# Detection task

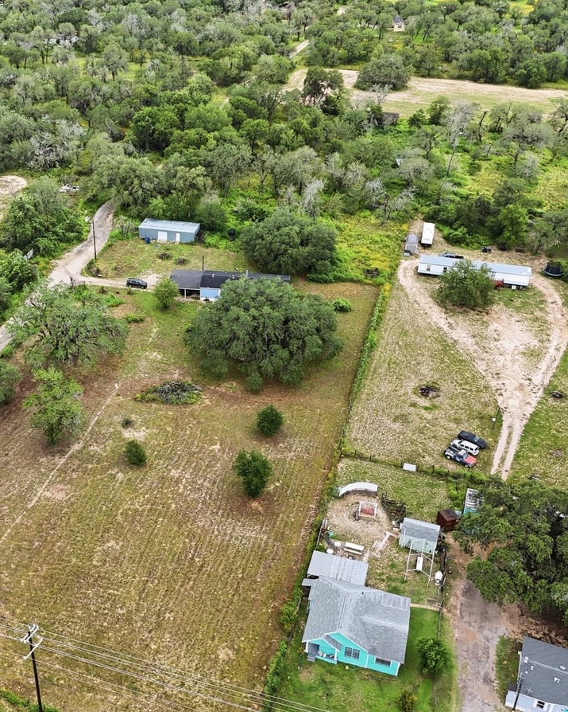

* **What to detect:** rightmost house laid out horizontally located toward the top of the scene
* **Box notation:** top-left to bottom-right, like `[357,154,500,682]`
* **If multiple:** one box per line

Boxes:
[416,255,531,289]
